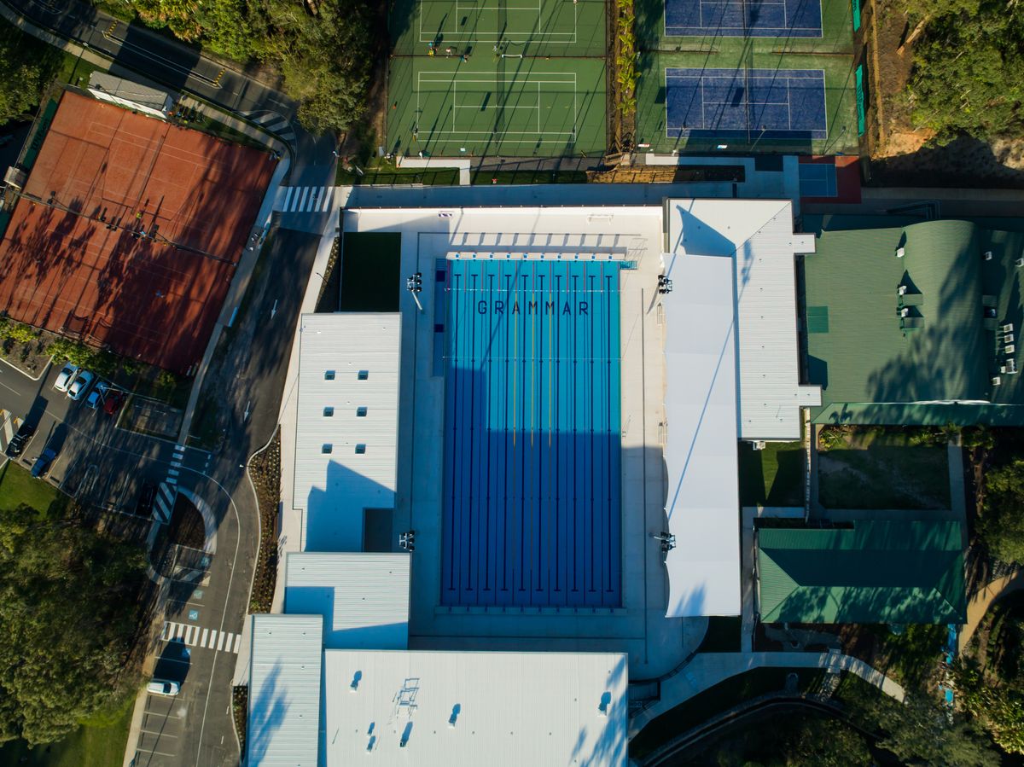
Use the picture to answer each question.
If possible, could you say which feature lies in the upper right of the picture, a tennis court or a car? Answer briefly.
tennis court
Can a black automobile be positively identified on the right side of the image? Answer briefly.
No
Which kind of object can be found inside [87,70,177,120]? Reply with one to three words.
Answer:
building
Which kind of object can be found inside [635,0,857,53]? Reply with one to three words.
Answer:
tennis court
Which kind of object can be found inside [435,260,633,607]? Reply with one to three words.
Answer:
swimming pool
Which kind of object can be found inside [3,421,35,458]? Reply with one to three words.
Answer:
car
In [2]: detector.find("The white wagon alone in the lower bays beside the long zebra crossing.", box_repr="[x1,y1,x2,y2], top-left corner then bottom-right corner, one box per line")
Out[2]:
[142,680,179,699]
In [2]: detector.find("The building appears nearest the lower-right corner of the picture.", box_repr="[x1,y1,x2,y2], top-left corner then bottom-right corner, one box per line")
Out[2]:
[756,520,968,625]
